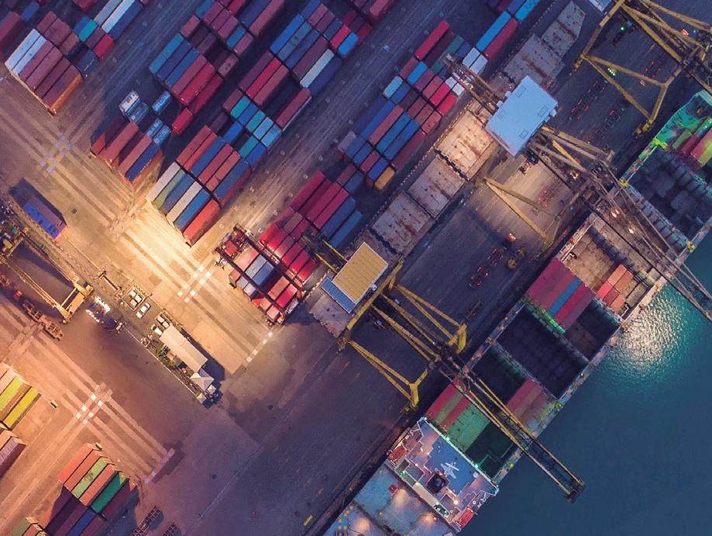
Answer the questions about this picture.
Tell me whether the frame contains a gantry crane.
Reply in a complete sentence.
Yes, there's a gantry crane down there.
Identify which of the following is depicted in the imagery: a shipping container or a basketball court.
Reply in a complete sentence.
The one in the frame is a shipping container.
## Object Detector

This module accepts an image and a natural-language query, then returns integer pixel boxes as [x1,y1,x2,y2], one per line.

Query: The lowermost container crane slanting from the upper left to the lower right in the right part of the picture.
[296,227,587,504]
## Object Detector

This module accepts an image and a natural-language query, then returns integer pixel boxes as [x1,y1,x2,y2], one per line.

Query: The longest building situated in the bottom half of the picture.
[159,325,207,373]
